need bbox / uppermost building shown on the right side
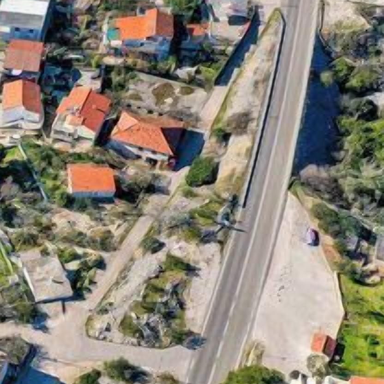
[210,0,253,26]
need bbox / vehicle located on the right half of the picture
[306,228,319,248]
